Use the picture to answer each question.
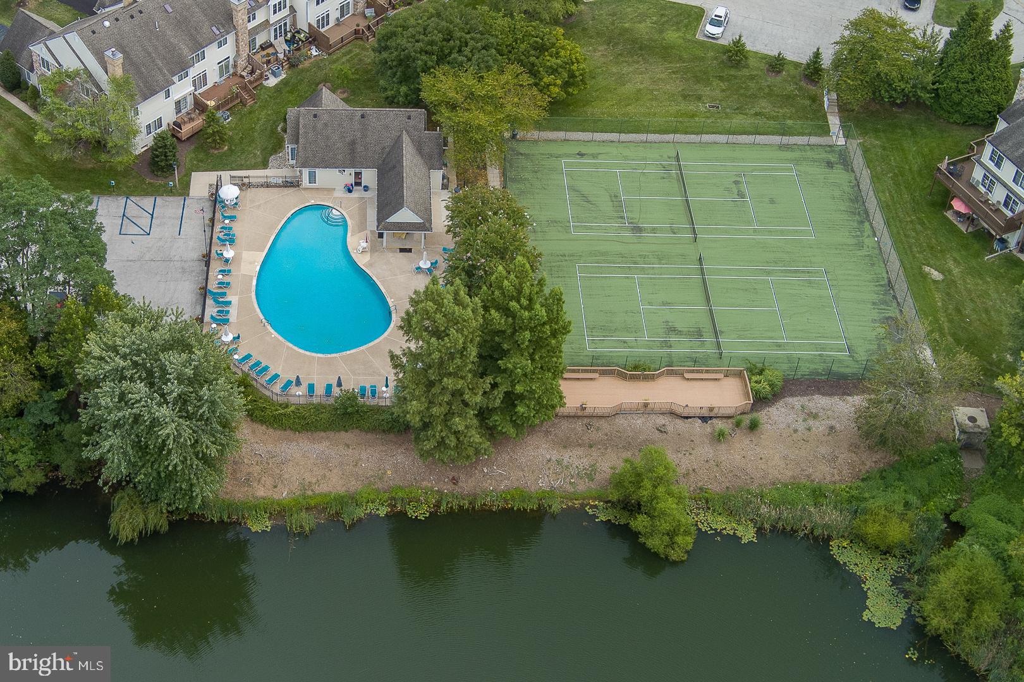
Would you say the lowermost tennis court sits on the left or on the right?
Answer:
right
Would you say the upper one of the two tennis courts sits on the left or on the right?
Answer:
right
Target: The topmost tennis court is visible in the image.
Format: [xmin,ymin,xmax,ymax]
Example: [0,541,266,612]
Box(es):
[507,140,877,254]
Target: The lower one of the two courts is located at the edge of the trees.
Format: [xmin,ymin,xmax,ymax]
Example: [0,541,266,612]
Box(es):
[529,248,910,380]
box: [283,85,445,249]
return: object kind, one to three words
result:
building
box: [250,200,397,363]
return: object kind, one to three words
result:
swimming pool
